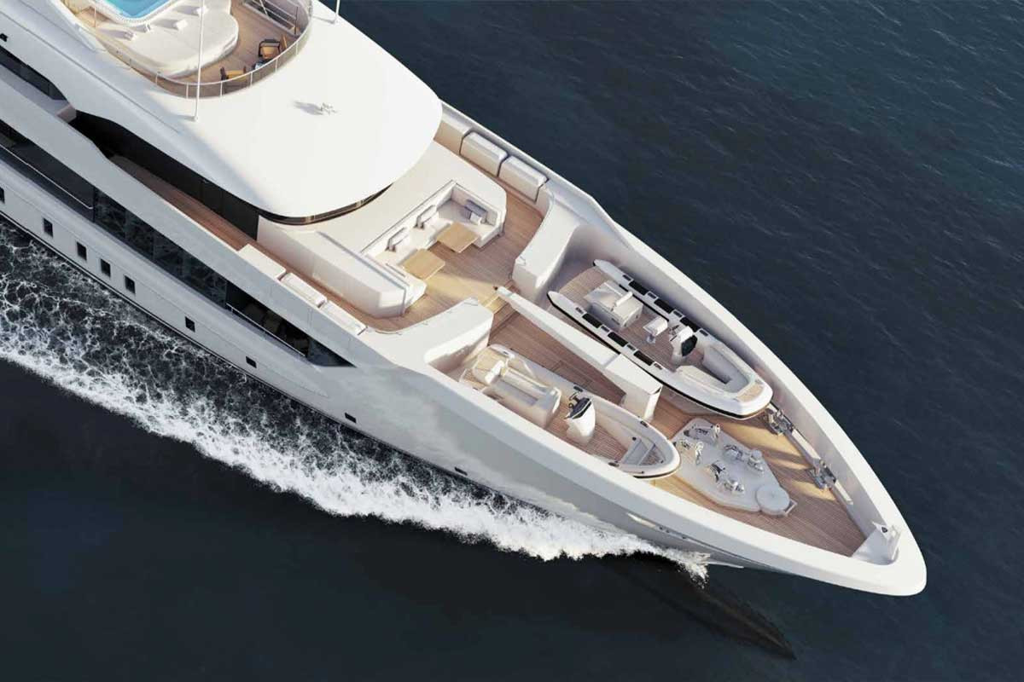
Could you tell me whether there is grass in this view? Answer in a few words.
No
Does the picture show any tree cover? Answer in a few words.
No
